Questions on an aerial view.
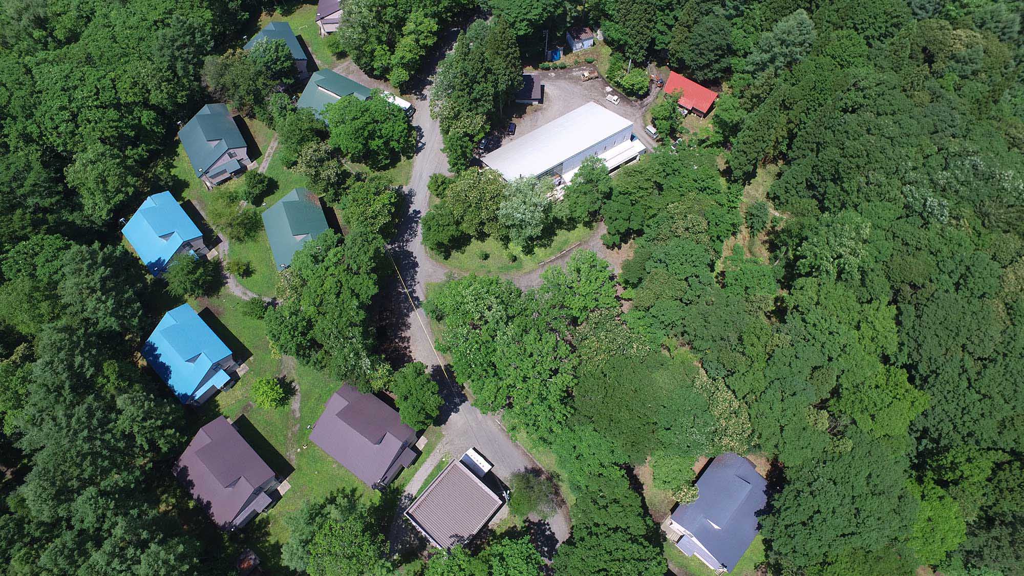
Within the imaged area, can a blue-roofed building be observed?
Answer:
Yes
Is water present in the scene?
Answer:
No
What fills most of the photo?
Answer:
trees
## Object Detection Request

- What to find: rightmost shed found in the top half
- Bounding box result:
[665,70,718,121]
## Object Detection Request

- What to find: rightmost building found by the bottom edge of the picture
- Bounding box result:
[664,442,768,576]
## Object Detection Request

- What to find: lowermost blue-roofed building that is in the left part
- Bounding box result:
[137,303,249,417]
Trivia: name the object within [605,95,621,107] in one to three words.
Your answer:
vehicle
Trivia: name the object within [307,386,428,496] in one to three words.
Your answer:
building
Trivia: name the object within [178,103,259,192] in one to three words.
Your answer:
building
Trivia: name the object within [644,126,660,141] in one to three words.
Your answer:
vehicle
